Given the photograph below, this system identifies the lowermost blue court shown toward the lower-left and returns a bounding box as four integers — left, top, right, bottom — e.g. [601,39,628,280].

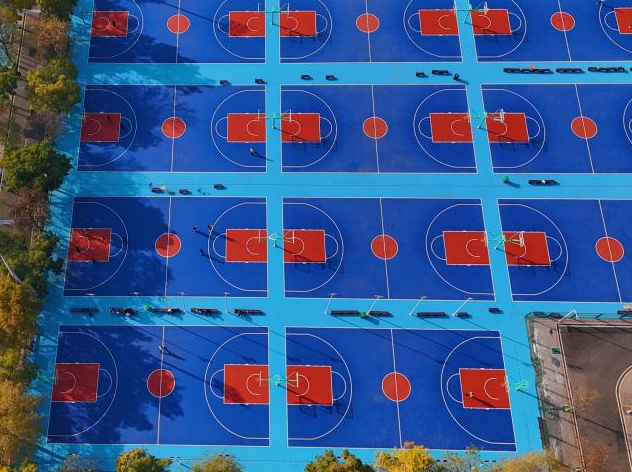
[46,325,269,446]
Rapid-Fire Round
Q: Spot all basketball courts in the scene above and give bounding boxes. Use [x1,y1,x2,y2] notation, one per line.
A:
[46,325,269,446]
[76,85,267,173]
[499,198,632,302]
[283,197,495,301]
[470,0,632,62]
[482,84,632,173]
[285,328,516,451]
[281,84,478,173]
[88,0,267,64]
[280,0,463,63]
[62,197,268,299]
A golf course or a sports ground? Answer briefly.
sports ground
